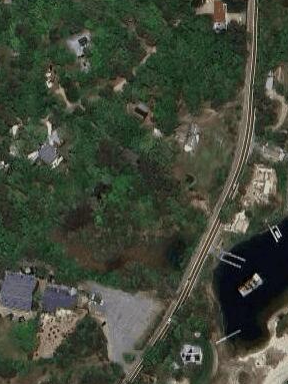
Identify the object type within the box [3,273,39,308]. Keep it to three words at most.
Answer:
building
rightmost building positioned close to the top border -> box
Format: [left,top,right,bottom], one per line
[215,0,228,32]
